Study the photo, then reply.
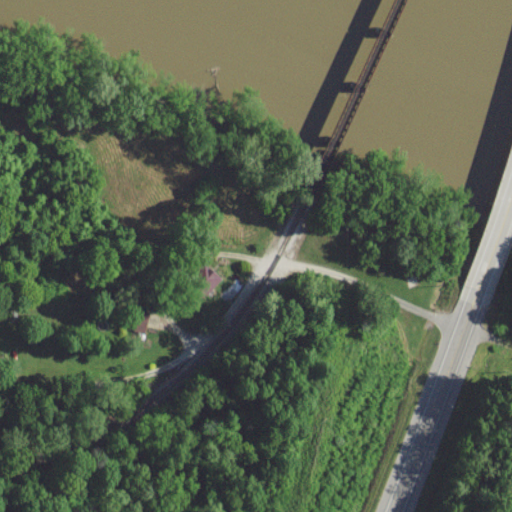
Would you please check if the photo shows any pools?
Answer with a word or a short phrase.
No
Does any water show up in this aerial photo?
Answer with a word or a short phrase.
Yes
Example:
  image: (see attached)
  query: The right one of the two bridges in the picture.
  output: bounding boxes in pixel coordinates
[472,146,512,260]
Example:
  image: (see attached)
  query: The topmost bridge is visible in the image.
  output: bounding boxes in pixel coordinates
[321,0,408,168]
